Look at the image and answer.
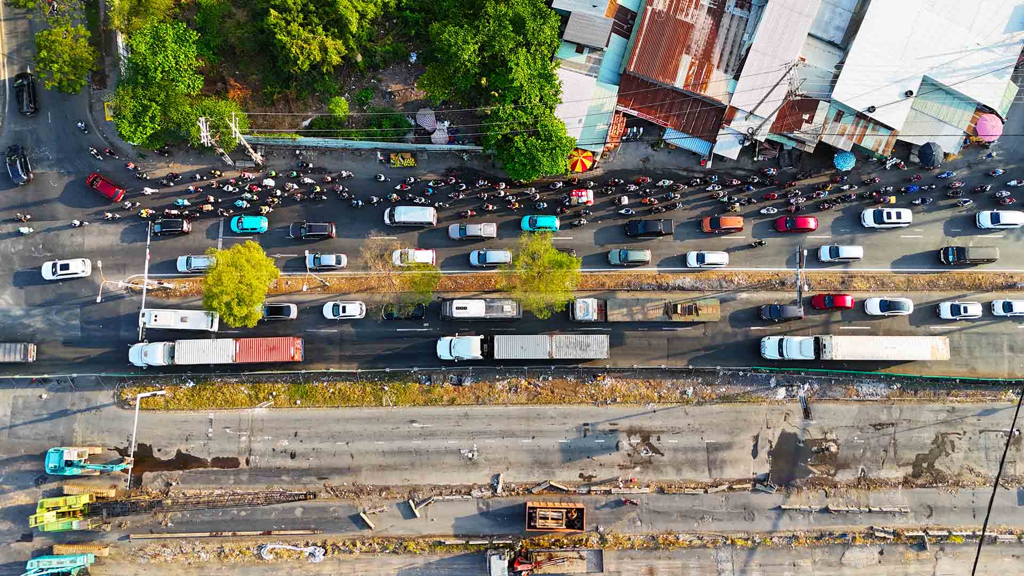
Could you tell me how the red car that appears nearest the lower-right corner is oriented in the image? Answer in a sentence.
I'd say the red car that appears nearest the lower-right corner is aligned from left to right in the picture.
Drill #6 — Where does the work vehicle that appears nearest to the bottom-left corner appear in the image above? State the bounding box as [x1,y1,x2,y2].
[45,445,138,476]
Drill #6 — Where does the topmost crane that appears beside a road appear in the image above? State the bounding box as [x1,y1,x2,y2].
[29,484,316,534]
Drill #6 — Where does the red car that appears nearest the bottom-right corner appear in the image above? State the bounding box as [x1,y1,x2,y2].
[811,292,855,312]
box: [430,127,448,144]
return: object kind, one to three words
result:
umbrella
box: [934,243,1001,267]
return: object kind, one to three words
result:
vehicle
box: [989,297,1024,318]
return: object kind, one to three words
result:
car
